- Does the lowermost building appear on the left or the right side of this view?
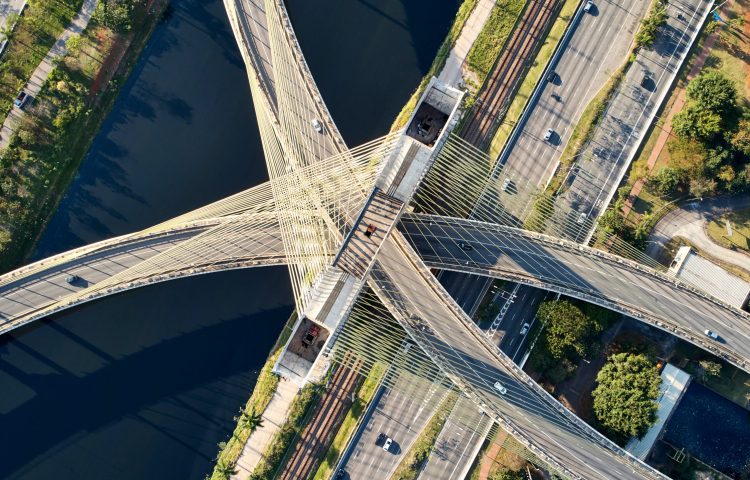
right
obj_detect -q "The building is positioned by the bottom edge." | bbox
[620,362,690,459]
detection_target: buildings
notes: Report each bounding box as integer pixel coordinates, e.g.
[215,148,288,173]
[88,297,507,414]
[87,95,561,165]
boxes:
[620,362,690,459]
[659,243,750,306]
